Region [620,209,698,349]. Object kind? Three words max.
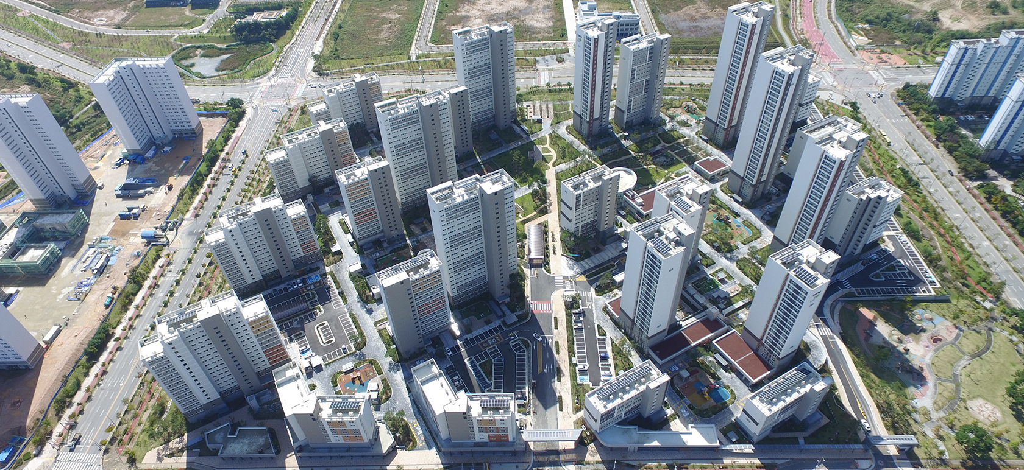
building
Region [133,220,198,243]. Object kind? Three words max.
shed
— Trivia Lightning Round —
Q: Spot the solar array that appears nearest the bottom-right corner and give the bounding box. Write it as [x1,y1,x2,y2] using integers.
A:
[755,363,817,403]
